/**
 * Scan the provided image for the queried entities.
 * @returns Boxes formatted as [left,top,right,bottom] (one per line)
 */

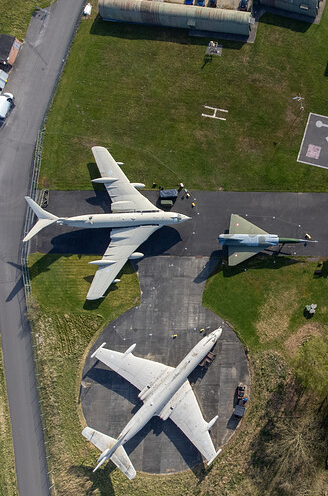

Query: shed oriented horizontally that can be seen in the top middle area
[98,0,253,35]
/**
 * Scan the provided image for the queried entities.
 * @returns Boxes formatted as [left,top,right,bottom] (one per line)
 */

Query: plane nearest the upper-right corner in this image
[215,215,311,267]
